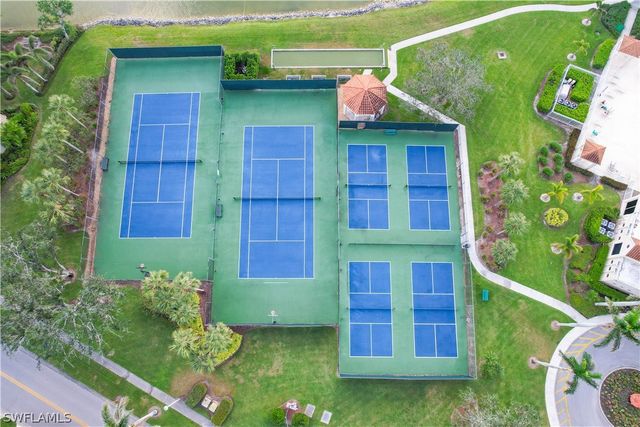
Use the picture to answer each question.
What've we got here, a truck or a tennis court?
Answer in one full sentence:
Of the two, only a tennis court appears.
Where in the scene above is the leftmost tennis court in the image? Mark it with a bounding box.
[93,56,222,281]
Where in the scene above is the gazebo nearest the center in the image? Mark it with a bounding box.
[343,75,388,123]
